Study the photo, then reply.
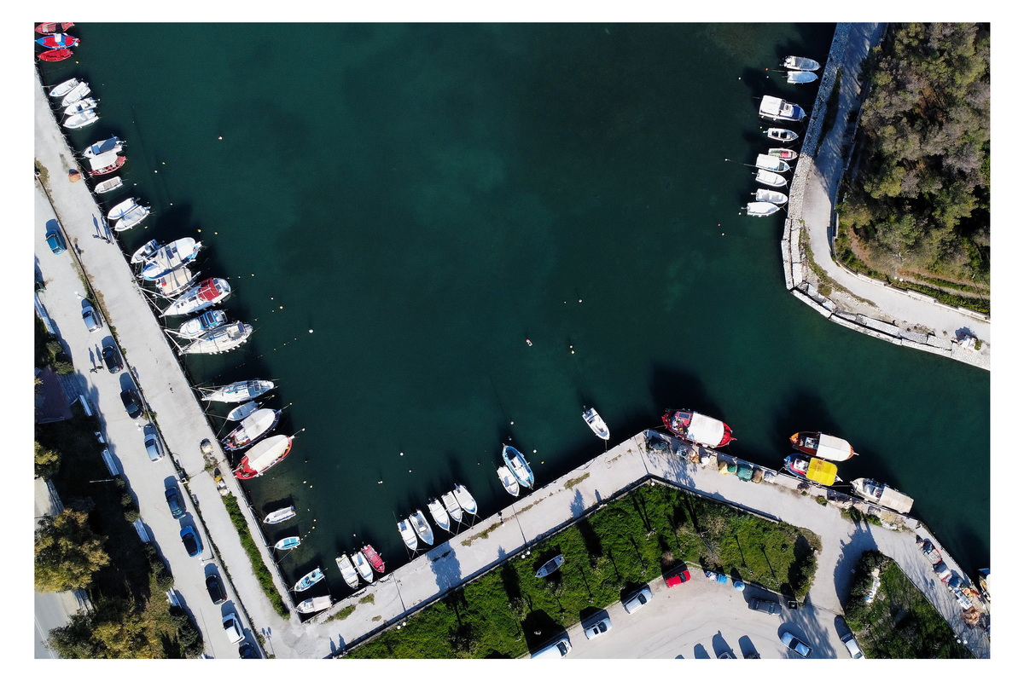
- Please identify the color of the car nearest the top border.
blue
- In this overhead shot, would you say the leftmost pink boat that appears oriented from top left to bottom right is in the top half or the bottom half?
bottom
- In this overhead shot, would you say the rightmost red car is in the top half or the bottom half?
bottom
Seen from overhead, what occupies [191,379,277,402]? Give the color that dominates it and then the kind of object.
white boat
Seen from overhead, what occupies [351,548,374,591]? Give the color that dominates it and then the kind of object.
white boat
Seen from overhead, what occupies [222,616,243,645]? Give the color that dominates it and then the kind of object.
white car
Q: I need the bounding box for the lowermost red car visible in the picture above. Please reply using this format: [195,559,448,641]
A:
[664,569,692,591]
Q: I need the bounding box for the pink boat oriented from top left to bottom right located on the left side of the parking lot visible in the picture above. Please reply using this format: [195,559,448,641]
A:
[360,542,390,582]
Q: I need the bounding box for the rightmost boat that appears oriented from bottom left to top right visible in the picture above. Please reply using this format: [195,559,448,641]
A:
[536,558,565,577]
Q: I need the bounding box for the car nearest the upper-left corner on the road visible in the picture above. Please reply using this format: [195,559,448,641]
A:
[43,226,65,254]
